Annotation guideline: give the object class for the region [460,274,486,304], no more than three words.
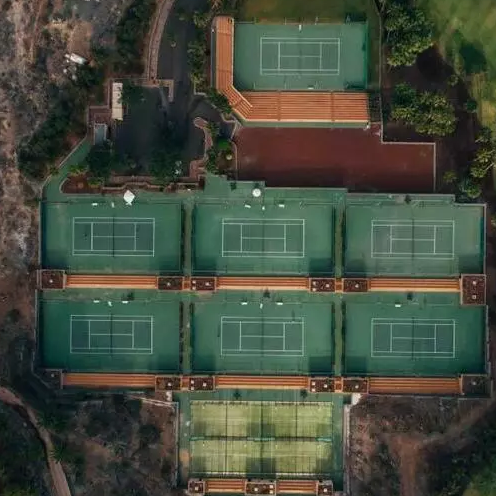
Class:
building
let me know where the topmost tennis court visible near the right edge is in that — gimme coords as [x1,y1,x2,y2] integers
[346,204,480,276]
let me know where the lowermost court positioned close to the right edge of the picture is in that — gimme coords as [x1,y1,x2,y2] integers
[345,304,483,377]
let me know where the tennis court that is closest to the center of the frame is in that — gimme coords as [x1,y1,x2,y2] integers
[194,203,335,275]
